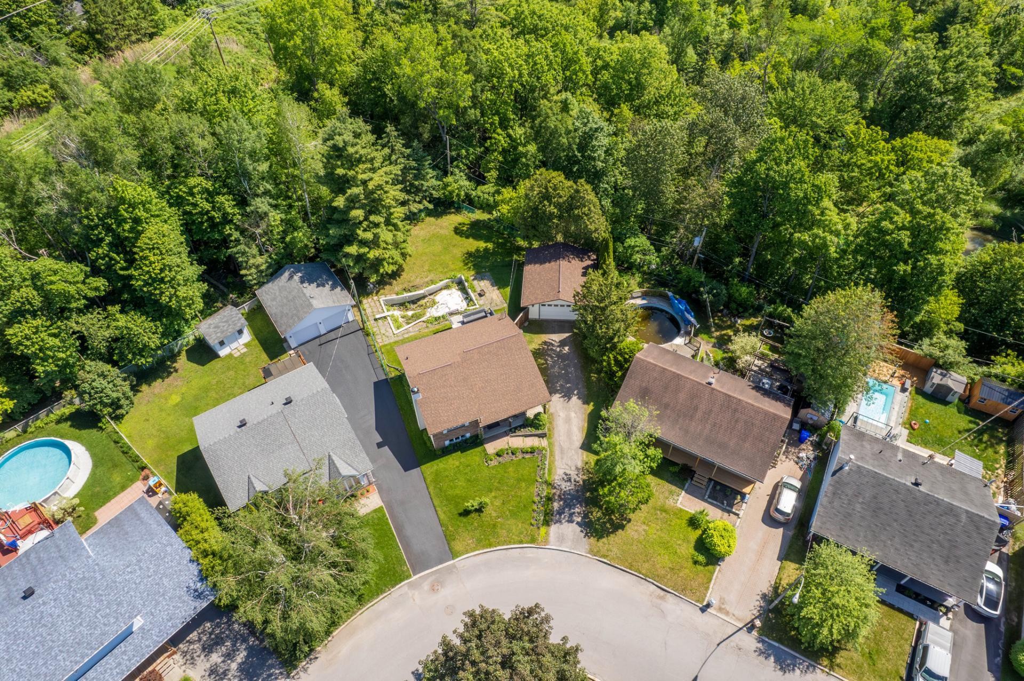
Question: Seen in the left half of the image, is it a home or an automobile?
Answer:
home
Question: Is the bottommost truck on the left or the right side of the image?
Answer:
right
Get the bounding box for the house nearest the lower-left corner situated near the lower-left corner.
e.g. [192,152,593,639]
[0,498,216,681]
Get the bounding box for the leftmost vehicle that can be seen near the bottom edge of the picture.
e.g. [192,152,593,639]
[910,626,955,681]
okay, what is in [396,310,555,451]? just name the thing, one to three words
house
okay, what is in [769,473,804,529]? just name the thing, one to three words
car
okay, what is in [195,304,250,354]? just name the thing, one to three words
shed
